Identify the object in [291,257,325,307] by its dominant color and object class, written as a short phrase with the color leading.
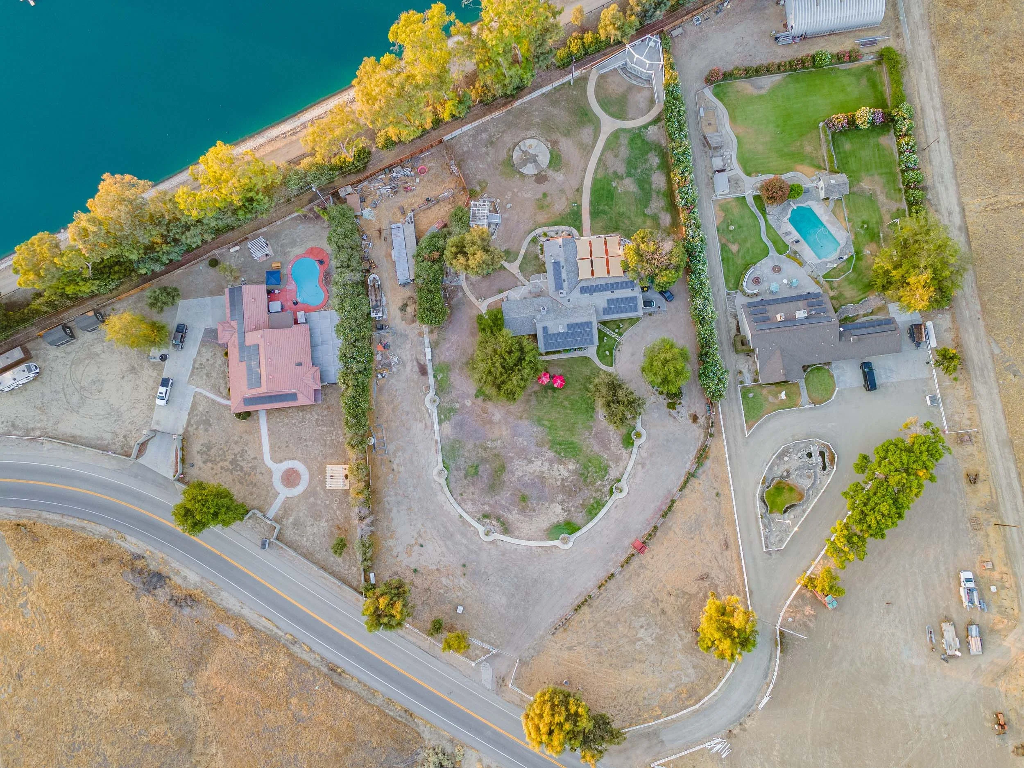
blue swimming pool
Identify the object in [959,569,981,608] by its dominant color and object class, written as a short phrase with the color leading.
white truck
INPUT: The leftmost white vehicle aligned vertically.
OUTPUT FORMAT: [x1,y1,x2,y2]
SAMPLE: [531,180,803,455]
[157,377,174,407]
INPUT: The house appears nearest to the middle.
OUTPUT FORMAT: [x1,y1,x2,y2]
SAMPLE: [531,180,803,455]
[502,235,642,352]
